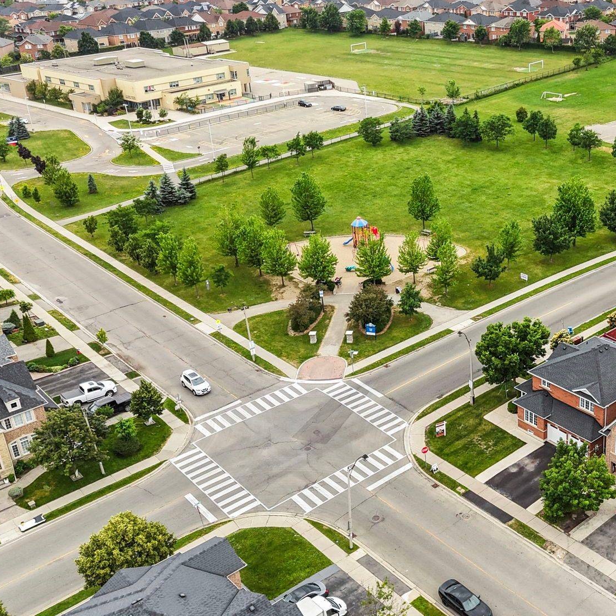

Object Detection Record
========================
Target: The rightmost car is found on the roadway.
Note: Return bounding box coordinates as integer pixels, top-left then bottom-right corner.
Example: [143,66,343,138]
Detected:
[436,578,494,616]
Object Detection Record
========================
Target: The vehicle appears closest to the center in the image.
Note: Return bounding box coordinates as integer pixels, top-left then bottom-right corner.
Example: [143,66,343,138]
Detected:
[179,370,211,396]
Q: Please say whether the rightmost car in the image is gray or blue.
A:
gray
